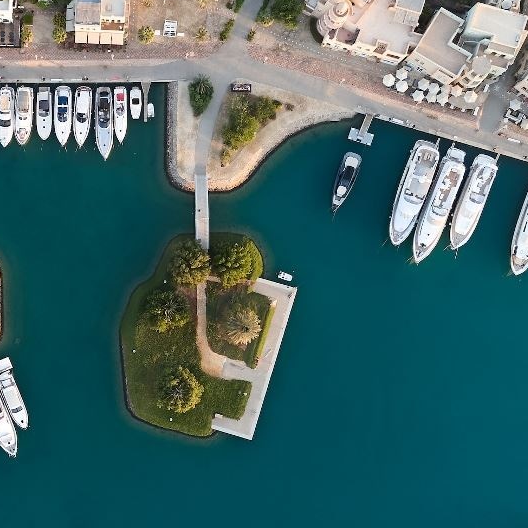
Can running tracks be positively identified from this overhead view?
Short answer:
No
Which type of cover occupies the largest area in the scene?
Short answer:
water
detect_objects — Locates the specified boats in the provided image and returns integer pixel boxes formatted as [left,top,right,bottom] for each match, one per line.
[448,150,464,159]
[0,372,30,432]
[14,78,33,147]
[0,78,15,147]
[407,153,464,273]
[113,87,127,150]
[129,89,142,121]
[55,86,72,154]
[36,87,52,140]
[148,104,155,119]
[389,137,437,247]
[330,152,360,212]
[95,86,114,161]
[509,185,528,274]
[73,86,92,154]
[0,388,17,456]
[446,148,494,257]
[279,272,293,282]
